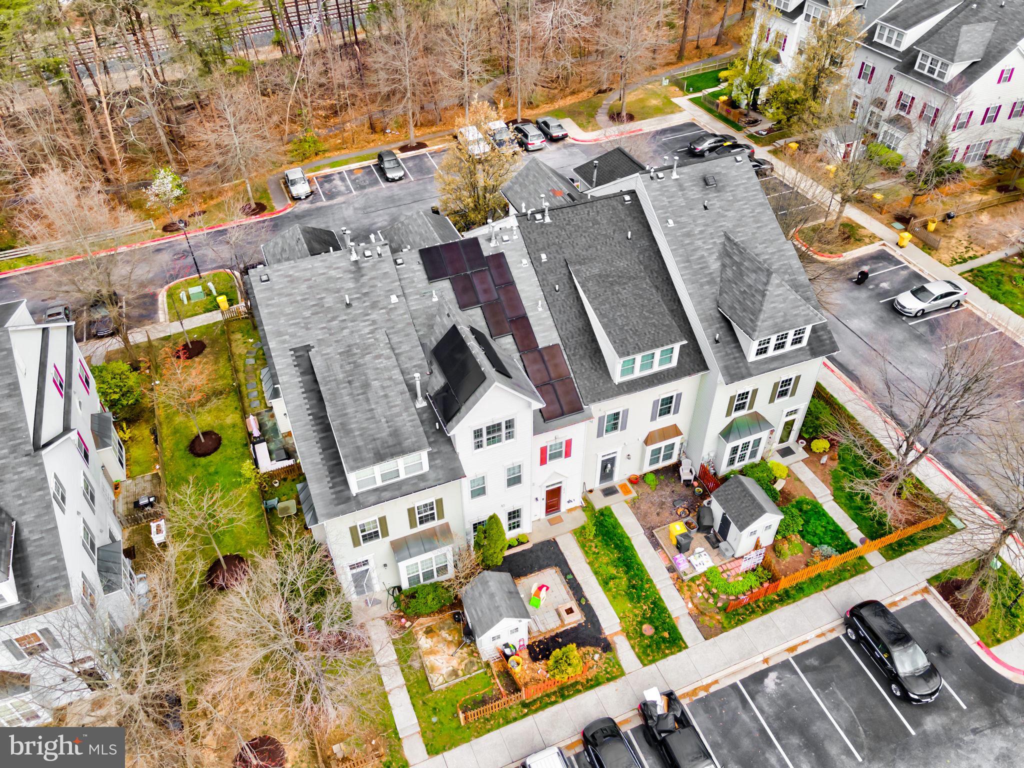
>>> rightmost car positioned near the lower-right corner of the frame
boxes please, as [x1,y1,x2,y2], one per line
[851,601,966,724]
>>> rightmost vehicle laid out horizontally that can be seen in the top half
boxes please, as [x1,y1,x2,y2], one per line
[893,280,966,319]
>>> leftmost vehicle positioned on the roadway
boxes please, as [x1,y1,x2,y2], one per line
[42,292,81,324]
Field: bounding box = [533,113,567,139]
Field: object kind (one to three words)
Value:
car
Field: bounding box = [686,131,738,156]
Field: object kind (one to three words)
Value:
car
